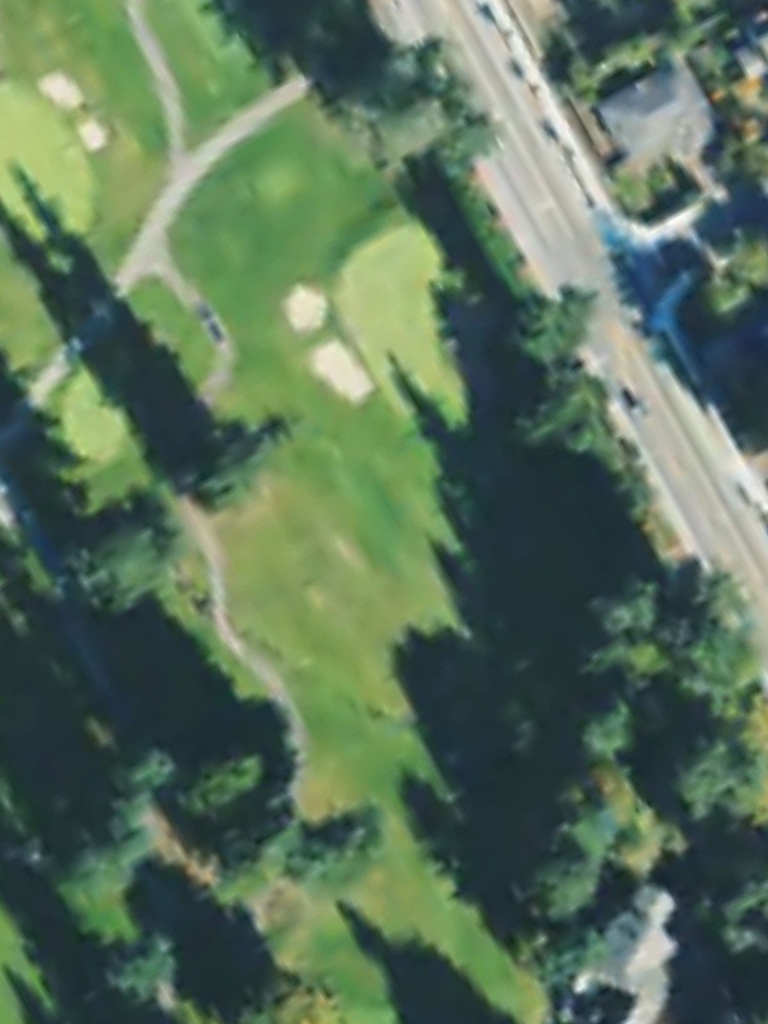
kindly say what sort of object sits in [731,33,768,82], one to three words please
house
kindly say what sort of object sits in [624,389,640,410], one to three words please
car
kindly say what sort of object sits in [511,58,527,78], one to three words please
car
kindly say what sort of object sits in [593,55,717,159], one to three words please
house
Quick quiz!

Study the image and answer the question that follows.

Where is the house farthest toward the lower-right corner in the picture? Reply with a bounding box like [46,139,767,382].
[604,914,677,991]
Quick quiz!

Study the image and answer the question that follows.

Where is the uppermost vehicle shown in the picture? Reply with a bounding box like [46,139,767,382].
[482,3,498,23]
